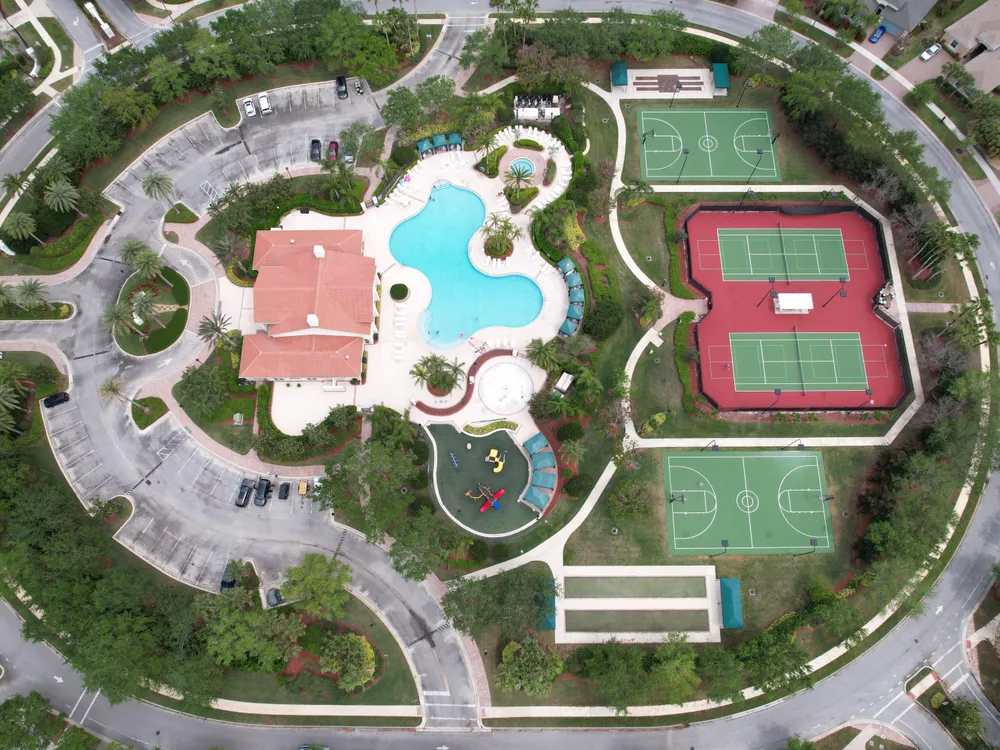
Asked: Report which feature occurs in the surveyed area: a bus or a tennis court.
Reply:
tennis court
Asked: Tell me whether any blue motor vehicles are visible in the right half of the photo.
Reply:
Yes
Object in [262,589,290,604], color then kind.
gray car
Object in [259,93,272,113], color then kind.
white vehicle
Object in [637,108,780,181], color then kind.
green basketball court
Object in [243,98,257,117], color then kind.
white vehicle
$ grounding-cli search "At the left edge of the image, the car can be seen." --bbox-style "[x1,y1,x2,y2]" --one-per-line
[43,391,71,408]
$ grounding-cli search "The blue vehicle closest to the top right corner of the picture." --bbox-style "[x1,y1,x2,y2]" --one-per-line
[869,25,886,44]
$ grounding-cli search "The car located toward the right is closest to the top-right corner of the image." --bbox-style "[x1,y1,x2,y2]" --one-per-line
[920,44,941,62]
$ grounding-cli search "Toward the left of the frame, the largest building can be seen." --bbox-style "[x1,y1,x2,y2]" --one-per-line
[238,229,383,381]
